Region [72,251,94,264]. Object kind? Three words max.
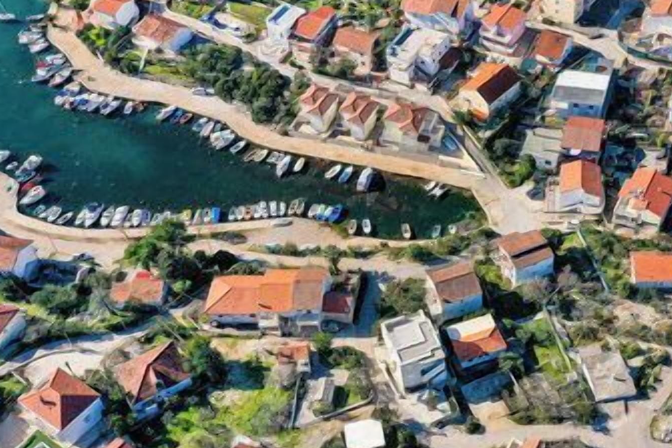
vehicle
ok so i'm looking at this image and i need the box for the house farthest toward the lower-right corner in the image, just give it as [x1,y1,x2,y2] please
[582,353,633,407]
